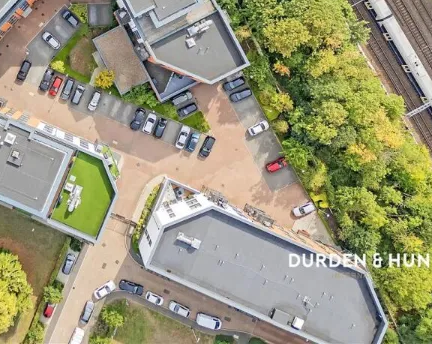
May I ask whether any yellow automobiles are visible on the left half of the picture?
No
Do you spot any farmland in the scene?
No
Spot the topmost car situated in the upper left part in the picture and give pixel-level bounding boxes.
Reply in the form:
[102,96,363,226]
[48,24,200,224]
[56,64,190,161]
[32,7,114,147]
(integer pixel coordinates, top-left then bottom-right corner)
[61,8,80,28]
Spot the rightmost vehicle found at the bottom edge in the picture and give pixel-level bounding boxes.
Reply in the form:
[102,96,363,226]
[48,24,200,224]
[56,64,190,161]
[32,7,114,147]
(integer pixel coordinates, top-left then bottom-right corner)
[196,313,222,331]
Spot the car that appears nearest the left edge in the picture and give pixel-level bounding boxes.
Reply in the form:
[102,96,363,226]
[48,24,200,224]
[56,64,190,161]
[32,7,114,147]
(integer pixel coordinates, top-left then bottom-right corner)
[17,60,31,82]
